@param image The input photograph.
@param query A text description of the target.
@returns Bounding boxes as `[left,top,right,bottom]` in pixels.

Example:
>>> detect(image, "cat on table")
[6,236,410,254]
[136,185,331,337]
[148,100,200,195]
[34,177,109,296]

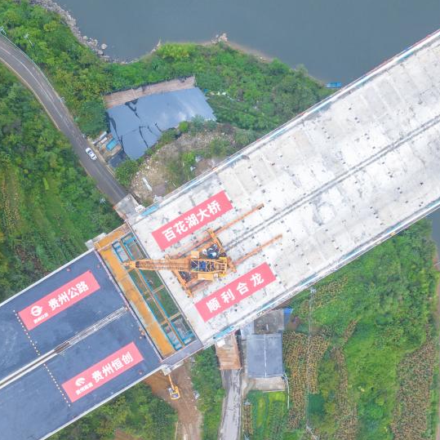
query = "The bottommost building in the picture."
[246,333,282,377]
